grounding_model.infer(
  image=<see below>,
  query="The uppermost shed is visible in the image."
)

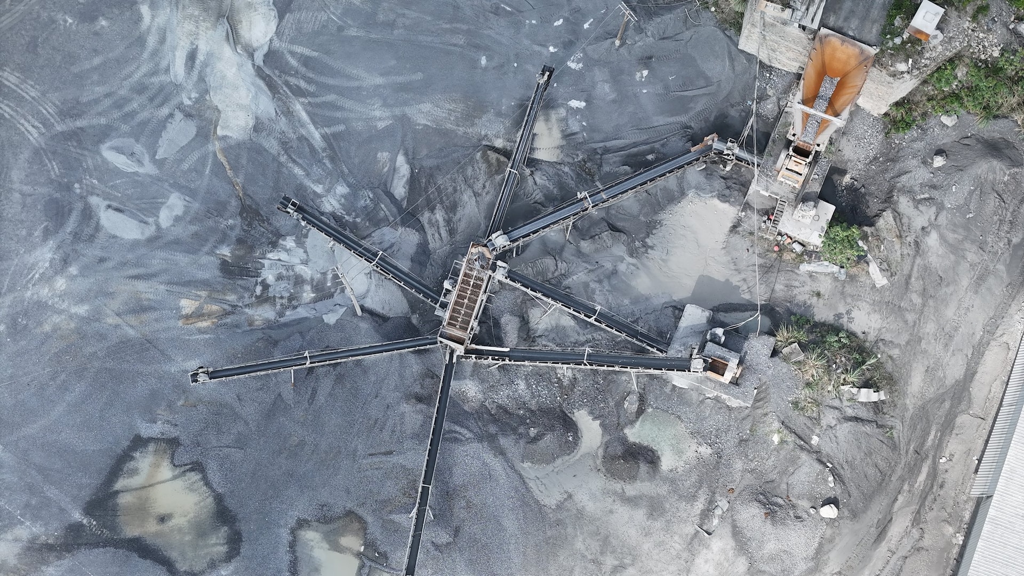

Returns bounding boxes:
[782,0,827,32]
